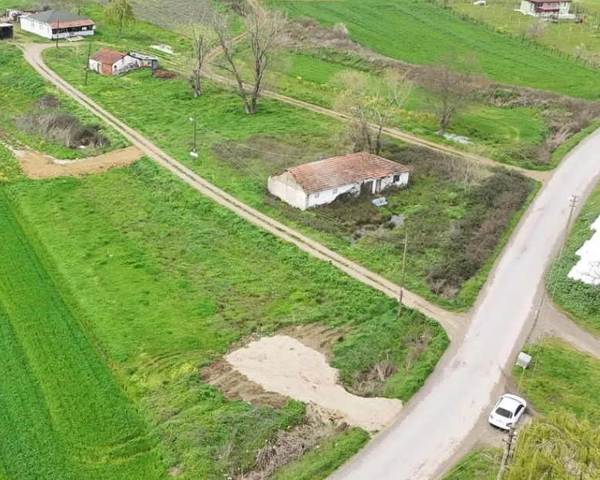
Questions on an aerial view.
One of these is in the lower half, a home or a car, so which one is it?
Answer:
car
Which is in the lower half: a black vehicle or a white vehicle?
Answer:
white vehicle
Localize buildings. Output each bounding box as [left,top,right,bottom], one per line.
[520,0,577,18]
[84,44,143,75]
[35,7,102,39]
[269,145,417,209]
[0,22,16,39]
